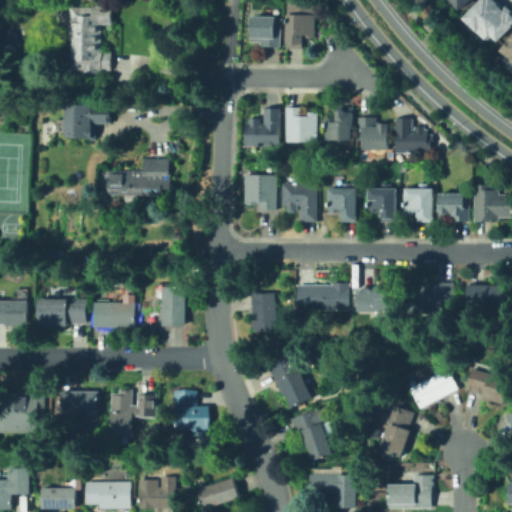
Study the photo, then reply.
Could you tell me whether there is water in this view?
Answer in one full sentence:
No, the picture contains no water.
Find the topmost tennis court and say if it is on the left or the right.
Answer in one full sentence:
The topmost tennis court is on the left side of the image.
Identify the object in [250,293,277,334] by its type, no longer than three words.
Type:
house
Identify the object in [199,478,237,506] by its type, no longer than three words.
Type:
house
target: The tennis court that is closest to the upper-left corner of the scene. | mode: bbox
[0,133,30,213]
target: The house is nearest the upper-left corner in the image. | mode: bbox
[68,8,112,72]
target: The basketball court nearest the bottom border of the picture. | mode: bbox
[0,214,20,242]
